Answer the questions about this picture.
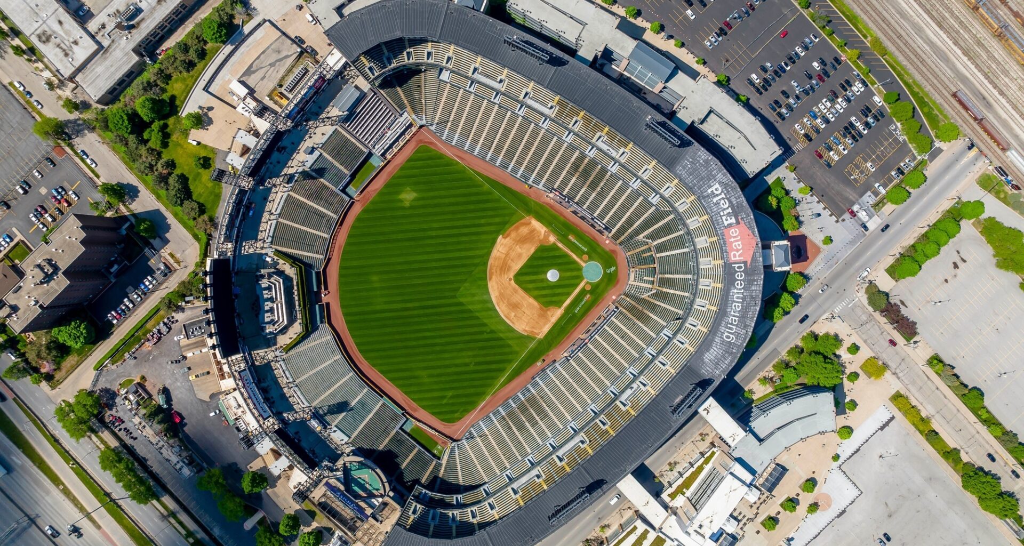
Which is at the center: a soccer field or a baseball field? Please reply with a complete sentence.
There is a baseball field at the center.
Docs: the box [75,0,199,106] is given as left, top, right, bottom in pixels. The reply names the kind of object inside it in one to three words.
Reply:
building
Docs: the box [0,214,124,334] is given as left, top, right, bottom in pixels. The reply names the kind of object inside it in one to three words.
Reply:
building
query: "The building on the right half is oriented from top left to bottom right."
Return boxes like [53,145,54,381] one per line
[601,42,679,110]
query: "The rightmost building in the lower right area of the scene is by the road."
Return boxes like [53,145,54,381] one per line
[730,384,836,483]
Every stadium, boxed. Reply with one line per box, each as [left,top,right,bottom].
[198,0,764,546]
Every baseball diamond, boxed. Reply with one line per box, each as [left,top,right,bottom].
[320,126,628,442]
